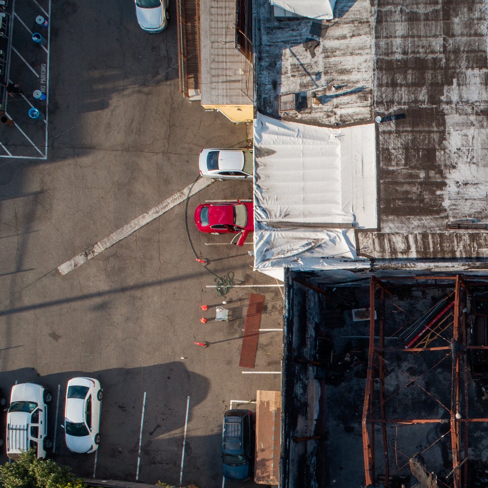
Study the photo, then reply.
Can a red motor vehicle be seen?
Yes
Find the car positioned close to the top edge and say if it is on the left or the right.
left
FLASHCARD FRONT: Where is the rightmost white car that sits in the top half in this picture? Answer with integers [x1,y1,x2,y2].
[197,147,254,183]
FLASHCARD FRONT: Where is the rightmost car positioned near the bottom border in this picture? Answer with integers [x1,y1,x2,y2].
[220,411,256,483]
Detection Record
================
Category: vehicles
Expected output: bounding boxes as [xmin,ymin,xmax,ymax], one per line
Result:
[133,0,172,37]
[63,380,105,453]
[6,383,53,459]
[195,201,258,246]
[197,147,254,183]
[220,411,256,483]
